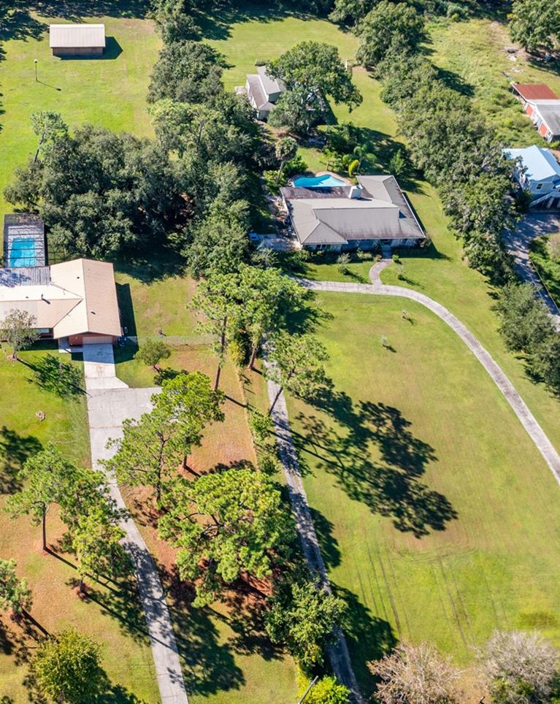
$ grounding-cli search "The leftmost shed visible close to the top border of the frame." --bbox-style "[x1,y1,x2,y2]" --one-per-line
[49,25,106,57]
